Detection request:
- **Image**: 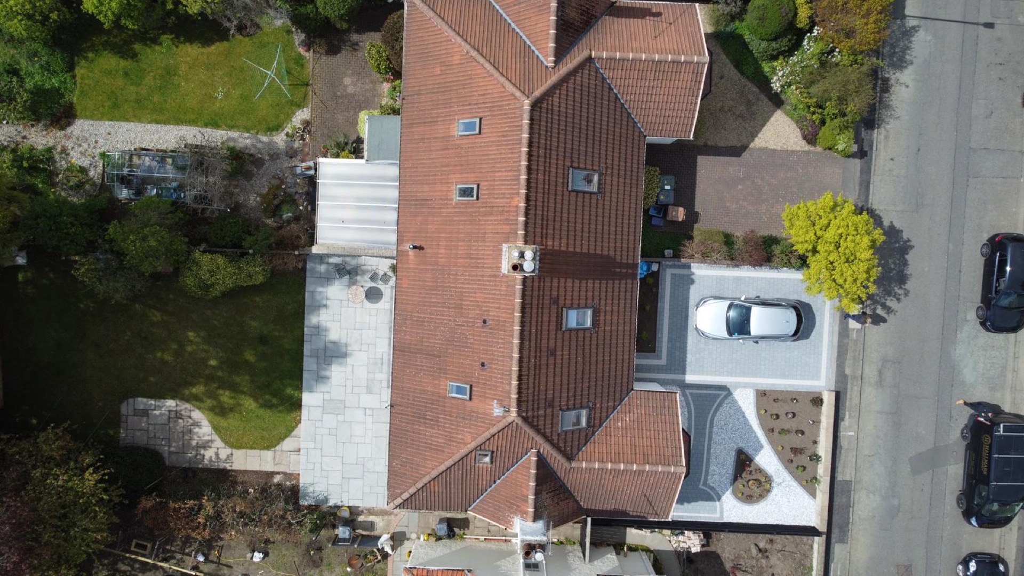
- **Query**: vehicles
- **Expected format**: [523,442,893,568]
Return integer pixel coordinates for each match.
[957,414,1024,528]
[690,292,803,346]
[976,231,1024,333]
[950,554,1007,576]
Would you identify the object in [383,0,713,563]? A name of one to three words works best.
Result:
house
